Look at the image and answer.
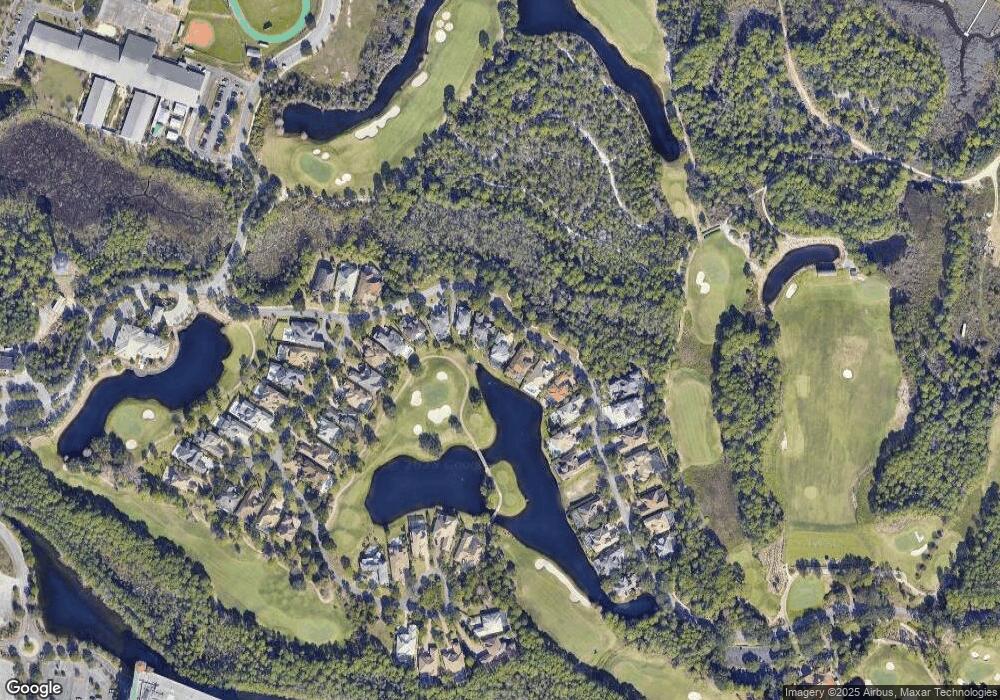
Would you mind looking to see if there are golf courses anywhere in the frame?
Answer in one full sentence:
Yes, the image includes a golf course.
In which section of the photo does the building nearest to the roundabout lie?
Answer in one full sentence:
You can find the building nearest to the roundabout in the bottom left area of the picture.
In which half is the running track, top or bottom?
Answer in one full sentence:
You can find the running track in the top half.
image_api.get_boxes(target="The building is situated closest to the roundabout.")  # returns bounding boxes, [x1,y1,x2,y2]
[130,662,223,700]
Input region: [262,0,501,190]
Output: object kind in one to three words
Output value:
golf course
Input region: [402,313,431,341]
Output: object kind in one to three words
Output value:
house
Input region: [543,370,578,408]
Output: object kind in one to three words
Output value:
house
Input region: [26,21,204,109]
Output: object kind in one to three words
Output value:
building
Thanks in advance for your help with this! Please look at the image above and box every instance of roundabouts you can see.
[9,626,47,664]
